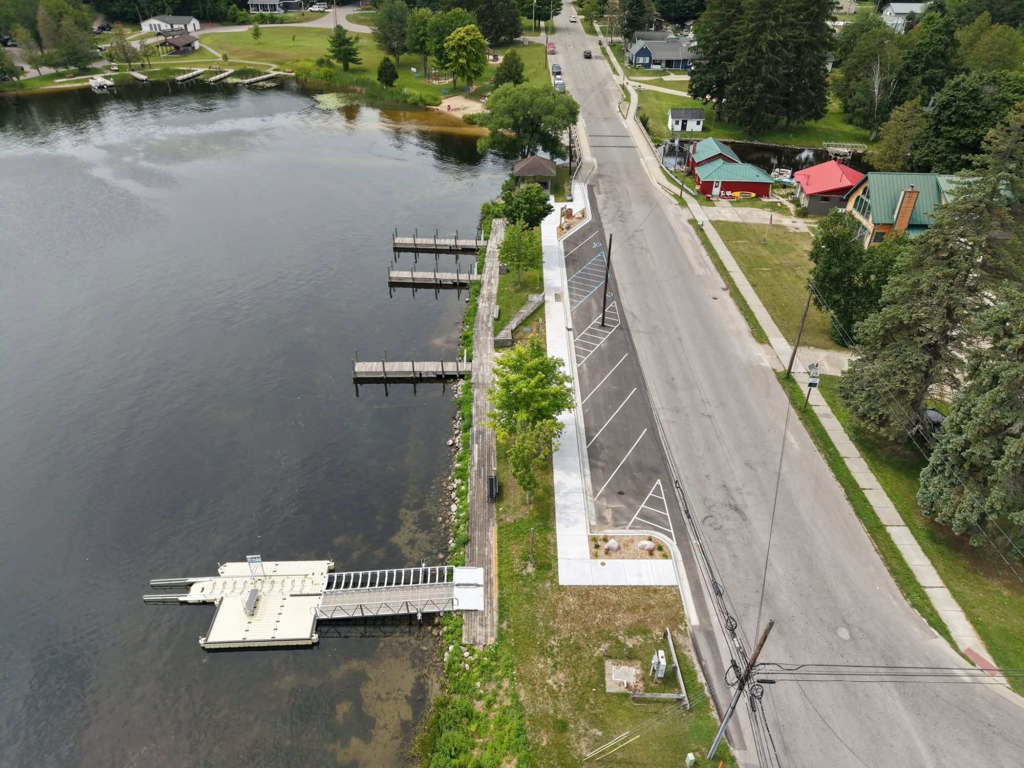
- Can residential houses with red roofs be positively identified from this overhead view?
Yes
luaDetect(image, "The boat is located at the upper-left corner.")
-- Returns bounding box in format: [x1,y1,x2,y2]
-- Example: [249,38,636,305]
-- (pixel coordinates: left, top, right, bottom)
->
[91,72,109,85]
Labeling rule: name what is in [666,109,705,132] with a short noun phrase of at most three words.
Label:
shed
